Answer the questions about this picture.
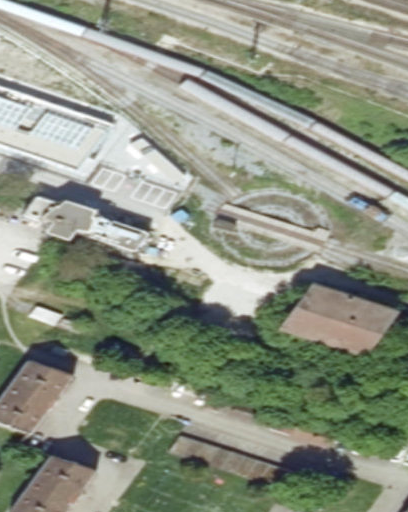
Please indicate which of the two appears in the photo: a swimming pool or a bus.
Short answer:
bus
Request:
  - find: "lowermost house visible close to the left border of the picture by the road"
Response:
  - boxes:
[7,457,95,512]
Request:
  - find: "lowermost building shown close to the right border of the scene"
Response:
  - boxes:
[281,284,399,358]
